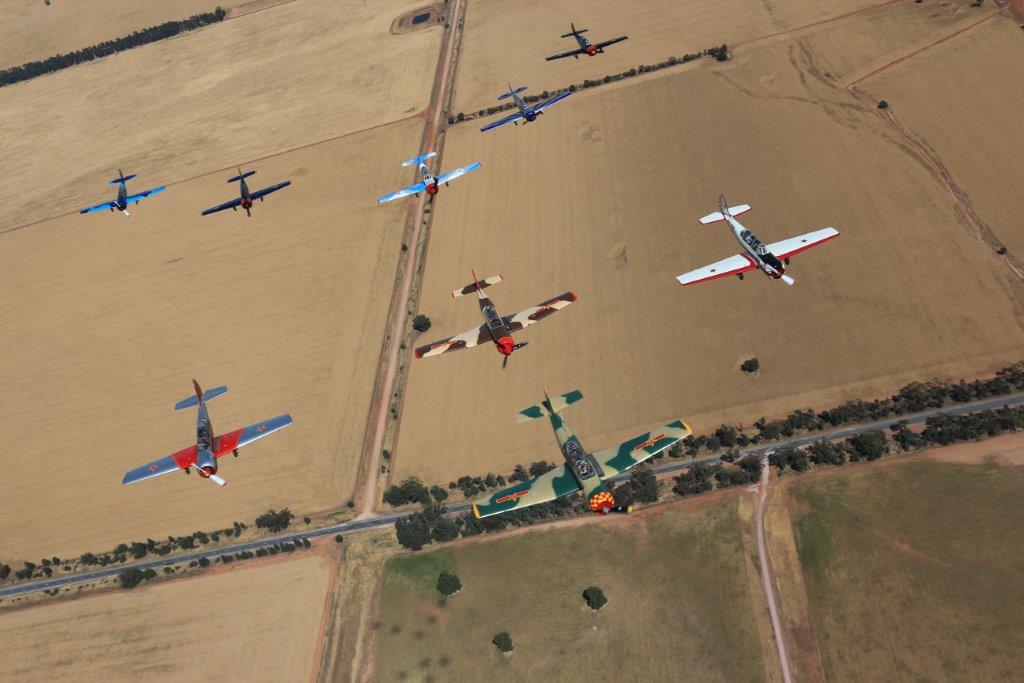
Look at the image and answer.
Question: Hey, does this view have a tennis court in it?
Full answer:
No, the picture doesn't show any tennis court.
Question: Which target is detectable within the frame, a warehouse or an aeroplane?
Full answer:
I can see an aeroplane in this picture.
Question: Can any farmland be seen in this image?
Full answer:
Yes, there is farmland in the image.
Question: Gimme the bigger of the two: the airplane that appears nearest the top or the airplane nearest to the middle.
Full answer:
The airplane nearest to the middle covers a greater area than the airplane that appears nearest the top.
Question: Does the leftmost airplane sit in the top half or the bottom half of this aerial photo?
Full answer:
The top half of the photo is where the leftmost airplane is.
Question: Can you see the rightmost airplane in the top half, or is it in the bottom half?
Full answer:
You can find the rightmost airplane in the top half.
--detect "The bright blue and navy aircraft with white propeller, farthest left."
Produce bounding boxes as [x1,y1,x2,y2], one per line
[80,168,165,215]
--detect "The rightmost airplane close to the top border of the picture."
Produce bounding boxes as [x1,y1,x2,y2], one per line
[545,22,628,61]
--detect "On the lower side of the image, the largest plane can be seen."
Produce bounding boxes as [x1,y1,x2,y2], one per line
[473,381,692,520]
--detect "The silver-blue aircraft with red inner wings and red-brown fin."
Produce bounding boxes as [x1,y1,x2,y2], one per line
[121,376,291,485]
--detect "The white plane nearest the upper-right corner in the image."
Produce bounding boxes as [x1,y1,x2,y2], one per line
[677,192,841,285]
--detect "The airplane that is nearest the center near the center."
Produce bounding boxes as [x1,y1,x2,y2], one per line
[415,268,577,370]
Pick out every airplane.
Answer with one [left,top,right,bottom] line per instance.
[473,381,692,520]
[480,81,571,131]
[80,168,165,215]
[121,376,291,485]
[201,165,291,215]
[545,22,628,61]
[378,148,480,202]
[677,192,841,285]
[415,268,577,370]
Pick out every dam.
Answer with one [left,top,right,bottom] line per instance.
[391,2,447,34]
